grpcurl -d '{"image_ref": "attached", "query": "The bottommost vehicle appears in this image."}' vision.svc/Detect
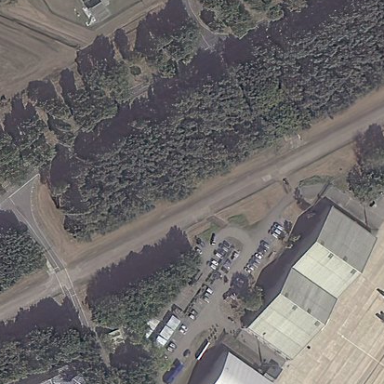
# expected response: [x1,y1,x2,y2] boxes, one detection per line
[166,361,183,382]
